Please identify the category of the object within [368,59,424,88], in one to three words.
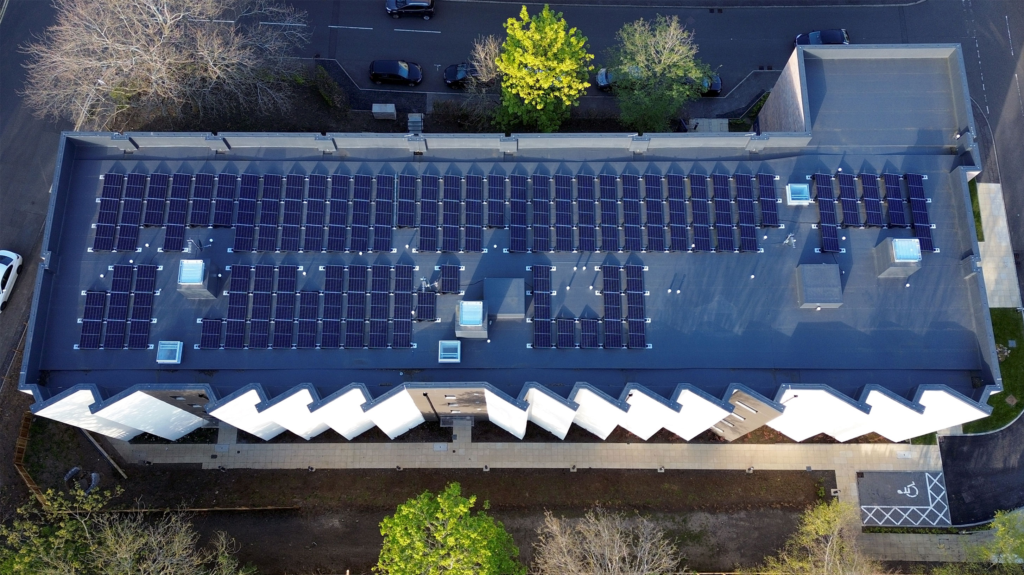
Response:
car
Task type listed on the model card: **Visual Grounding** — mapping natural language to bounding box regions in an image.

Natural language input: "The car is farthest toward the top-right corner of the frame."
[791,26,852,50]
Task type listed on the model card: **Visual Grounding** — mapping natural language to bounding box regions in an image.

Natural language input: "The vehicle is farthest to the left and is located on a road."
[0,253,26,308]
